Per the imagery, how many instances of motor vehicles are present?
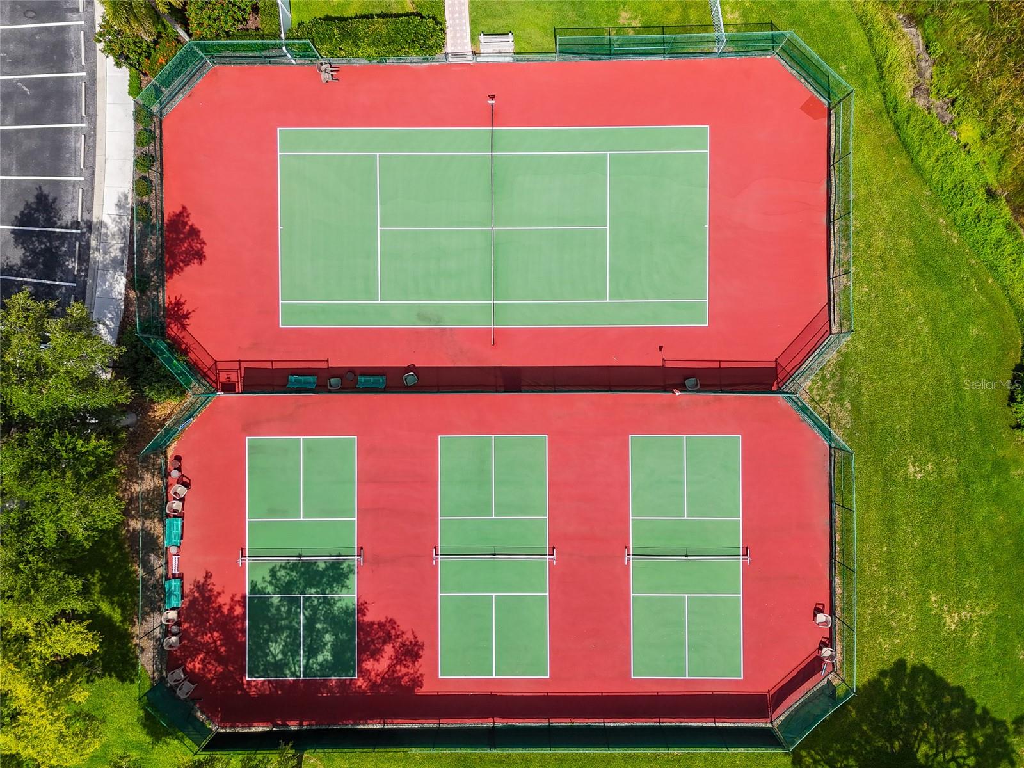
0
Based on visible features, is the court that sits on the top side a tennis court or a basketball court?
tennis court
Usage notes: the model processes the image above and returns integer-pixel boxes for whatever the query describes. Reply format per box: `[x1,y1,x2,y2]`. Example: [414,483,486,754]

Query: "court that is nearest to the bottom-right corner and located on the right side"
[630,435,743,679]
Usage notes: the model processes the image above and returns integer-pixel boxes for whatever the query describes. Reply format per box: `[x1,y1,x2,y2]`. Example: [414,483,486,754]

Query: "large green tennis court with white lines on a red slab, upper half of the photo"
[163,57,830,392]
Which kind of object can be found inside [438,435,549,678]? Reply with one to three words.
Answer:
sports court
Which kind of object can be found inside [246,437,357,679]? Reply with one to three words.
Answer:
sports court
